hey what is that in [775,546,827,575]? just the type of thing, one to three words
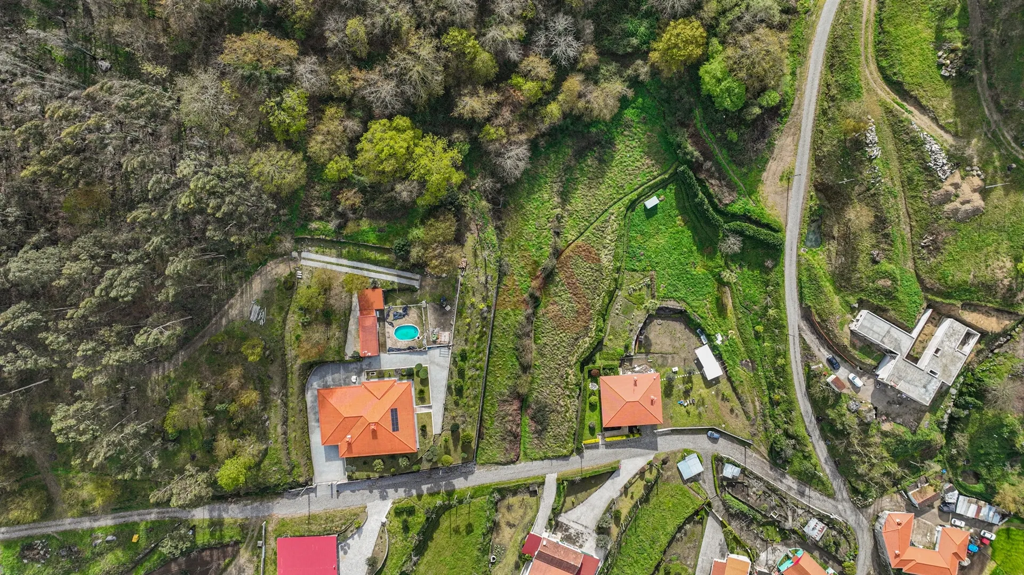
house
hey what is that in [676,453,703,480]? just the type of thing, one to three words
shed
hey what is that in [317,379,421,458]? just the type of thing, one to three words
house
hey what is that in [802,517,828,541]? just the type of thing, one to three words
shed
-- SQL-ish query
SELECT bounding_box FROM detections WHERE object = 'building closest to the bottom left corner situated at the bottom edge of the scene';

[277,533,340,575]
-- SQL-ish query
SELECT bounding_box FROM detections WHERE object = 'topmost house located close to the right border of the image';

[849,309,981,406]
